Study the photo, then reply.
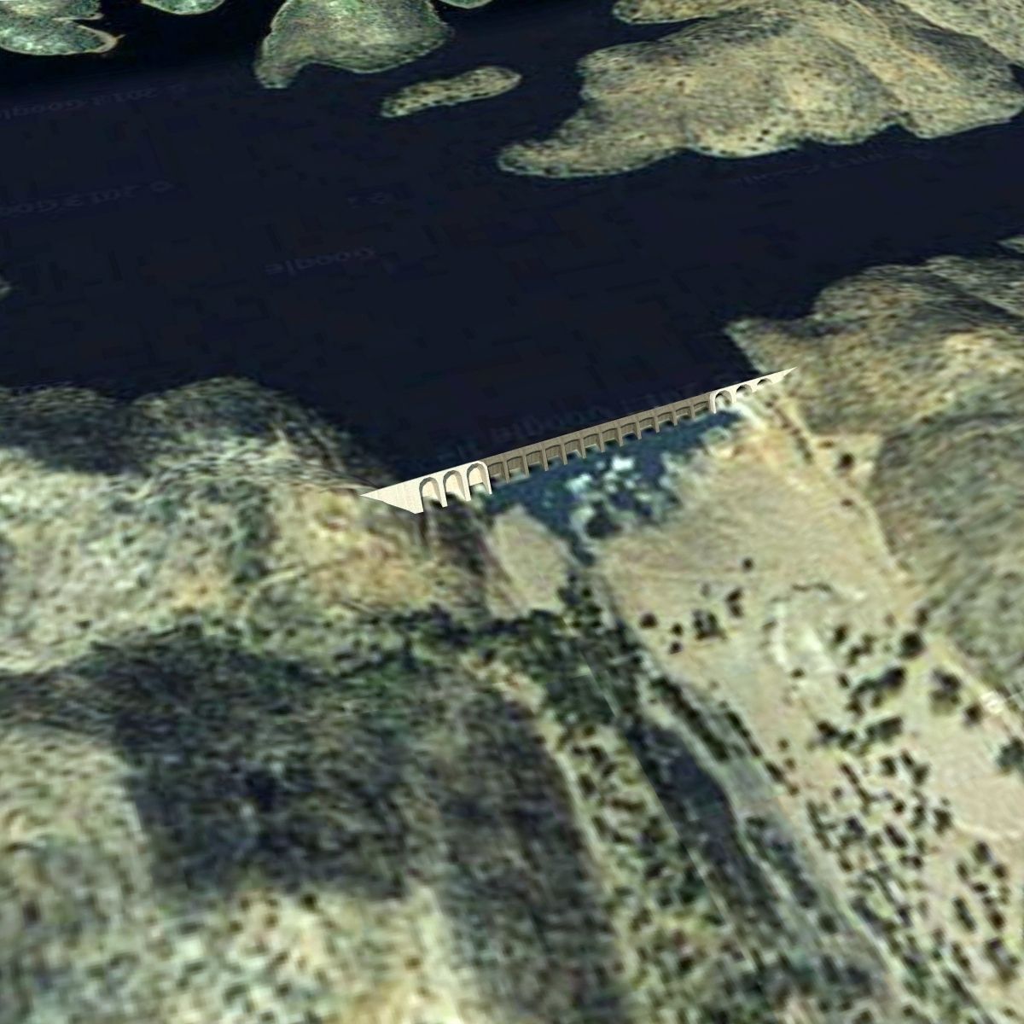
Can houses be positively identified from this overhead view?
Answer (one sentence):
No, the scene contains no house.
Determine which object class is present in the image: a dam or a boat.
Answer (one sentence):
I can see a dam in this picture.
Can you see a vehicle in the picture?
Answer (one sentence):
No, the photo shows no vehicle.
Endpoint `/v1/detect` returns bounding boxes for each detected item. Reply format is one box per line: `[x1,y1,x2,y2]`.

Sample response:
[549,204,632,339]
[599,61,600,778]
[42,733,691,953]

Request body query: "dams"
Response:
[359,367,798,517]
